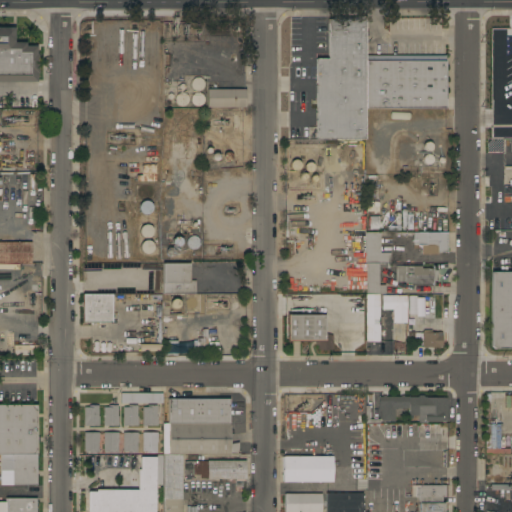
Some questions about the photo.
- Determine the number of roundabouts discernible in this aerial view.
none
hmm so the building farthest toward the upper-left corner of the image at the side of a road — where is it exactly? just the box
[0,26,38,81]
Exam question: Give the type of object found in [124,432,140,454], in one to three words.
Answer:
house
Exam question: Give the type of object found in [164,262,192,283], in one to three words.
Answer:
building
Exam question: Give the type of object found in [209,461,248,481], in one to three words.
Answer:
building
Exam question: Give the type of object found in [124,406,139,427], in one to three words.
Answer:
house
